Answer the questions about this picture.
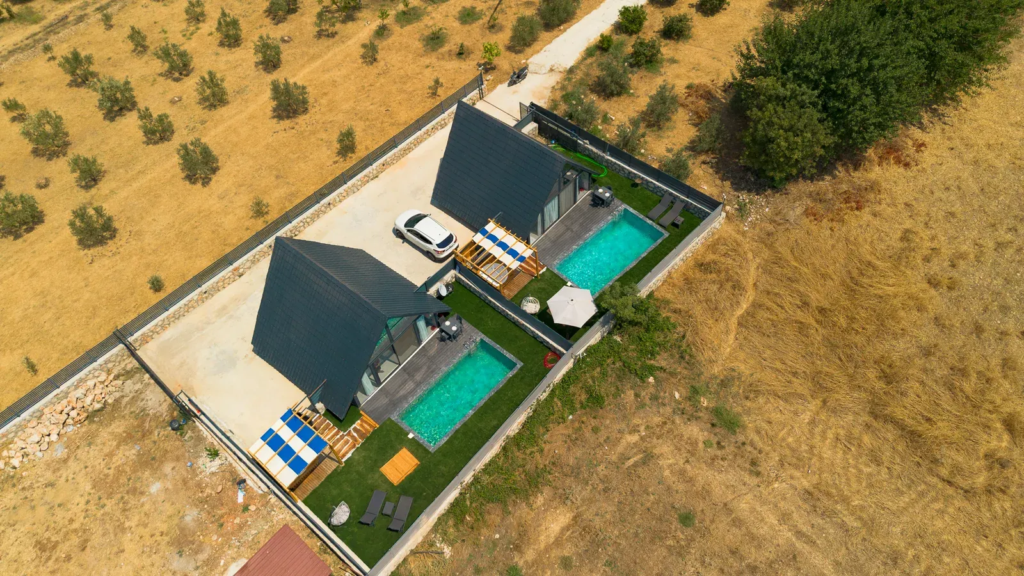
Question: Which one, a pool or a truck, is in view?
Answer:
pool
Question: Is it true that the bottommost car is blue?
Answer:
No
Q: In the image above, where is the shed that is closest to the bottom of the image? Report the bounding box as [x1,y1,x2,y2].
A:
[231,524,333,576]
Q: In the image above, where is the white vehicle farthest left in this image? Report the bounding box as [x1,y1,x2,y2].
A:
[392,209,460,261]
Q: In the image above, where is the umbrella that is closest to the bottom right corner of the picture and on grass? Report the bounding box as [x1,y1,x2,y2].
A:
[546,284,601,336]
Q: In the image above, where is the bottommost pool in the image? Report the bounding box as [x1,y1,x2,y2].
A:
[388,332,525,455]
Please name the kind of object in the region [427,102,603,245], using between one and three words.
building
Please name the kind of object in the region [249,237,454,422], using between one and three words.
building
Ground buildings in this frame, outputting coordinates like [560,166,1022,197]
[427,102,603,245]
[249,237,454,422]
[231,524,333,576]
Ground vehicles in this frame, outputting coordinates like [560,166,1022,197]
[508,63,527,84]
[392,209,460,261]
